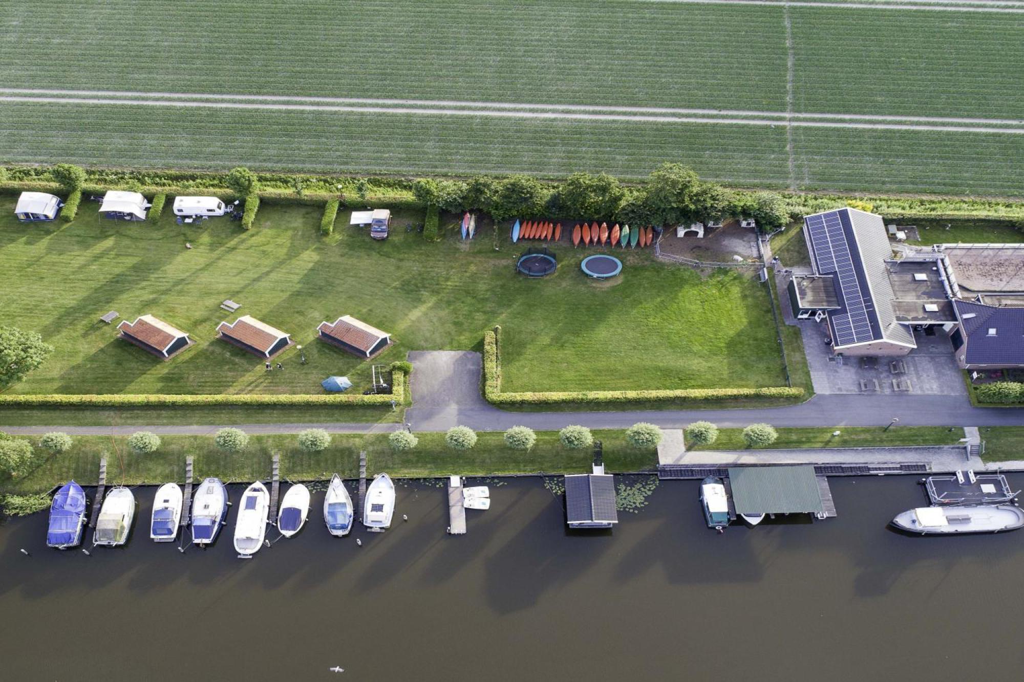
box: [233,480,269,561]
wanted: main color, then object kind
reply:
white boat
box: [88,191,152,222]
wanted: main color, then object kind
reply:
white camper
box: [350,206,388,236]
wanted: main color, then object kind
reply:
white van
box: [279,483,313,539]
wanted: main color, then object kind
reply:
white boat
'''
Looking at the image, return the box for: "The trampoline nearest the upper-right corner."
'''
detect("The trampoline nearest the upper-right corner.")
[581,255,622,280]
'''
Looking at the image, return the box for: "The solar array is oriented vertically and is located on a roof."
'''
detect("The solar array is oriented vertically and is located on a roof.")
[809,212,867,343]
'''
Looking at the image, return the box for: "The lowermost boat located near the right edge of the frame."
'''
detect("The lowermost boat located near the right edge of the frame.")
[891,505,1024,533]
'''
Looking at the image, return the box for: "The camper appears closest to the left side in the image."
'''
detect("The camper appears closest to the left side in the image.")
[2,189,66,222]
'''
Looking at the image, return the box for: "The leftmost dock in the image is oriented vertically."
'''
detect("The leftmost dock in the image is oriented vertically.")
[89,458,109,527]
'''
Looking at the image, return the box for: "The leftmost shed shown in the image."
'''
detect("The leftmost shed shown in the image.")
[116,318,195,360]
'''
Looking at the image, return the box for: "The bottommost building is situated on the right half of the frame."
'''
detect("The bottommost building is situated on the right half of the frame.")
[726,466,824,515]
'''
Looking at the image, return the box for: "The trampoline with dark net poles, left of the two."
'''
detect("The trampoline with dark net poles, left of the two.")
[518,248,556,278]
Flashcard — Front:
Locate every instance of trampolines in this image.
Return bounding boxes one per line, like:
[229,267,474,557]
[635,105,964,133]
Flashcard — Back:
[518,248,556,278]
[581,255,622,280]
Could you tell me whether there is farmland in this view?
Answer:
Yes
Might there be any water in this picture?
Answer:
Yes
